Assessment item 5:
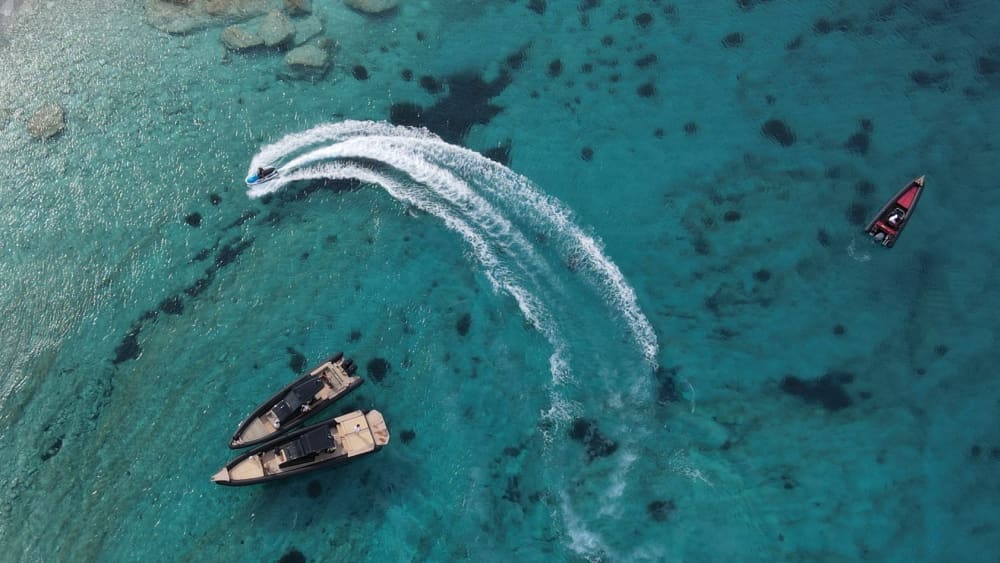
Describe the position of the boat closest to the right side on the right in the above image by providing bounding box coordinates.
[863,175,927,251]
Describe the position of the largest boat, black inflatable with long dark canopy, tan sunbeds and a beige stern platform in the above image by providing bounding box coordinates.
[209,409,390,484]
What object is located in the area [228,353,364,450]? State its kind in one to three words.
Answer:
boat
